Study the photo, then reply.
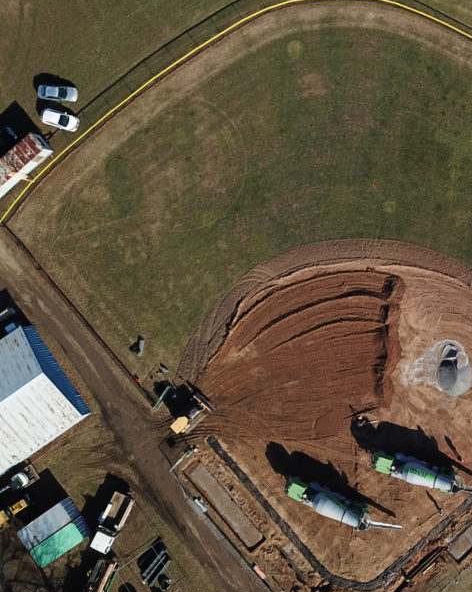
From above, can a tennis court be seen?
No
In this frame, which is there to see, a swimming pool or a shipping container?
shipping container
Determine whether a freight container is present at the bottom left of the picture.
Yes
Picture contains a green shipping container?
Yes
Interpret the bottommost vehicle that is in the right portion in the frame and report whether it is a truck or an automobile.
truck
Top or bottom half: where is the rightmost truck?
bottom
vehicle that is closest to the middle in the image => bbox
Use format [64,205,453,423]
[168,391,215,439]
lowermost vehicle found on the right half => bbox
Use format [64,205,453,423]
[279,470,403,533]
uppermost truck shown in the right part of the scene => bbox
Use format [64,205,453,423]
[369,444,472,491]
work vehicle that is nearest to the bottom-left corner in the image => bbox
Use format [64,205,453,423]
[0,491,36,525]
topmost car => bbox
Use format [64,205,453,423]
[37,82,79,102]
